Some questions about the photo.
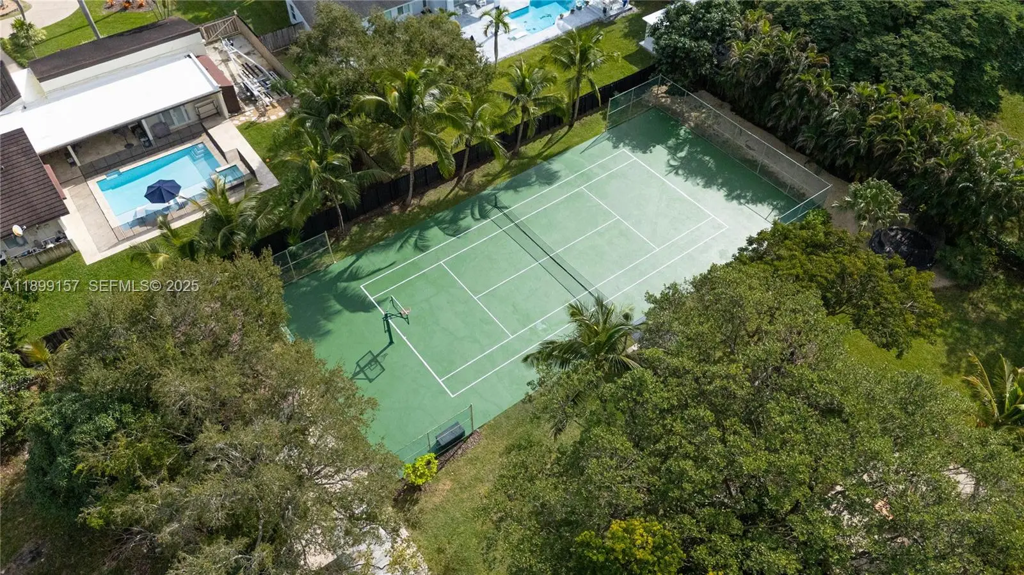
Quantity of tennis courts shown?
1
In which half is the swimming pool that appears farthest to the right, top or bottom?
top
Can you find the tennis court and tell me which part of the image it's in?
center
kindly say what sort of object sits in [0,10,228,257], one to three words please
house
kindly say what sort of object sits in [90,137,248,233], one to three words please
swimming pool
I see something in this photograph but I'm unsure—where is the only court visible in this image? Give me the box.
[278,106,808,464]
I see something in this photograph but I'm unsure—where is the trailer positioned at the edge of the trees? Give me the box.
[218,36,293,100]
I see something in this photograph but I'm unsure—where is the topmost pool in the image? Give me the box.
[507,0,579,38]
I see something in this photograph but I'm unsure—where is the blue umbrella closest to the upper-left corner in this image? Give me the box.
[145,177,185,209]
